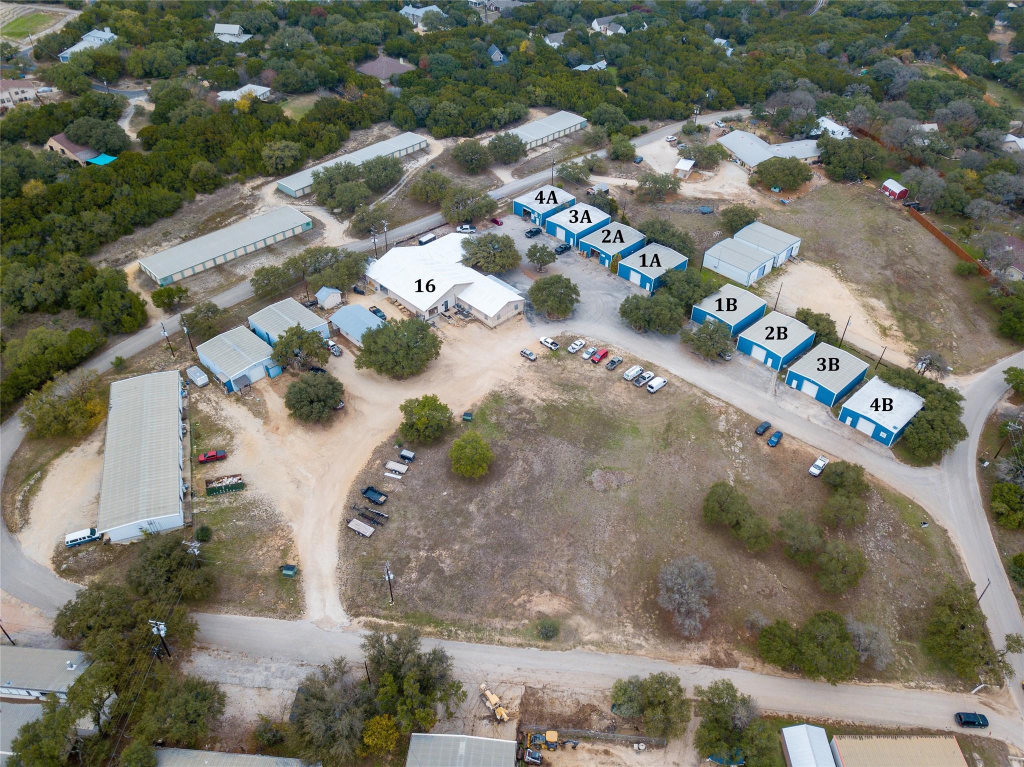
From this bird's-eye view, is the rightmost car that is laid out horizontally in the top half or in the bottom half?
bottom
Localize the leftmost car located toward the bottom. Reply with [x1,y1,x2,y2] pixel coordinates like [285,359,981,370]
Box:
[66,530,96,548]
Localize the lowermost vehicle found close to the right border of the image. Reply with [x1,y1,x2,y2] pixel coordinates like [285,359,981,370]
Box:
[950,709,993,731]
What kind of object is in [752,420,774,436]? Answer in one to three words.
car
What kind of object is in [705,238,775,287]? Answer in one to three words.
shed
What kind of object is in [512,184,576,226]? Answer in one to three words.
building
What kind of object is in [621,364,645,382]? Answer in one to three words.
vehicle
